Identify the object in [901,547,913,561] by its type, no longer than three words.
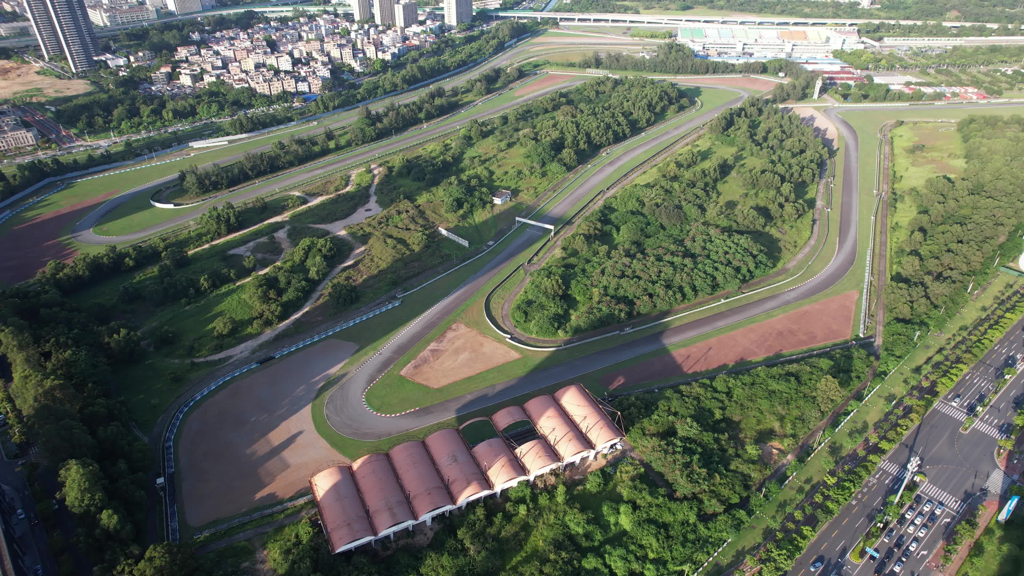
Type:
vehicle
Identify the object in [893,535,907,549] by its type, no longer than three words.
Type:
car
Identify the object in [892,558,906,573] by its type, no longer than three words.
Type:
car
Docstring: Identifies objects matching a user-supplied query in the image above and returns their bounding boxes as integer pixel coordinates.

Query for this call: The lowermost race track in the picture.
[70,42,1024,439]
